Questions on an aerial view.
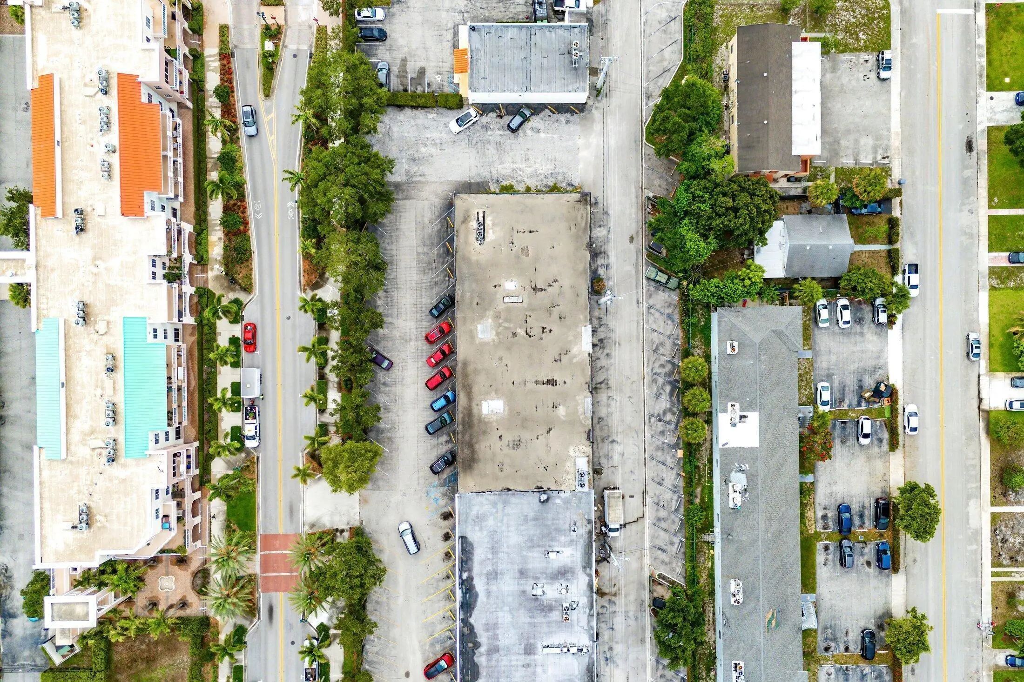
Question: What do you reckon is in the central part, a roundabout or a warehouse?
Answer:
warehouse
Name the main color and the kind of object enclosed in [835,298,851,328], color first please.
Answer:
white car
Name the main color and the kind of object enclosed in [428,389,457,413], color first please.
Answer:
blue car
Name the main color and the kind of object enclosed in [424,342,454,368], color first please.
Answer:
red car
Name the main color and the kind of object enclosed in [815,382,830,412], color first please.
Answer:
white car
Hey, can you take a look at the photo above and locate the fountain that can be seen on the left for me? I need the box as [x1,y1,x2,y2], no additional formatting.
[158,576,174,592]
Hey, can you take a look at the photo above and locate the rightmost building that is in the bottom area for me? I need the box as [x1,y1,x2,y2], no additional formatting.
[709,305,817,682]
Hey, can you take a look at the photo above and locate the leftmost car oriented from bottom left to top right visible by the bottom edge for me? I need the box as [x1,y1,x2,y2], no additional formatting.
[425,652,453,680]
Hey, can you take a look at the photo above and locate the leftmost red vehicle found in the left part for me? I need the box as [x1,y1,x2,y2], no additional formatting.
[242,322,258,352]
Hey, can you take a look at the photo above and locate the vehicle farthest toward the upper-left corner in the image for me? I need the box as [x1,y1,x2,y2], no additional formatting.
[241,104,258,137]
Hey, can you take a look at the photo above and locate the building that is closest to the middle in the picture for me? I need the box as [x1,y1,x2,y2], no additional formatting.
[454,192,592,493]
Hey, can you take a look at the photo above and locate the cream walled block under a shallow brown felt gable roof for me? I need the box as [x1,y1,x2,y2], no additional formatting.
[727,22,822,187]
